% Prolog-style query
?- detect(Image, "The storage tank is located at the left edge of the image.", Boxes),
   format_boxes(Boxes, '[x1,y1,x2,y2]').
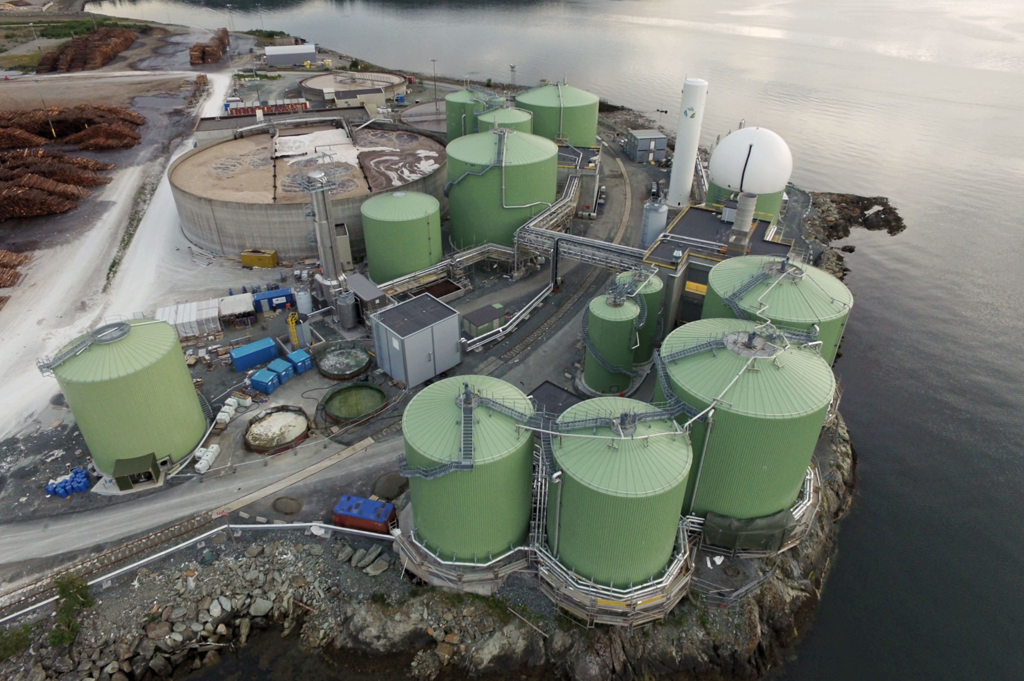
[29,313,209,496]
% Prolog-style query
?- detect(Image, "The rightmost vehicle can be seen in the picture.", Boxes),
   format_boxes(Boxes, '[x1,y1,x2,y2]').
[651,153,672,167]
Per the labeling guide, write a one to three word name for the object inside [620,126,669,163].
building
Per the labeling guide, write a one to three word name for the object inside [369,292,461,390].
building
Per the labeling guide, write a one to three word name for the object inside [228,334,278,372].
shipping container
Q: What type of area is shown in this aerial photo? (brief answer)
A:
industrial area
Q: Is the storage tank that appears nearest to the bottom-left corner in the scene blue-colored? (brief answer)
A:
No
